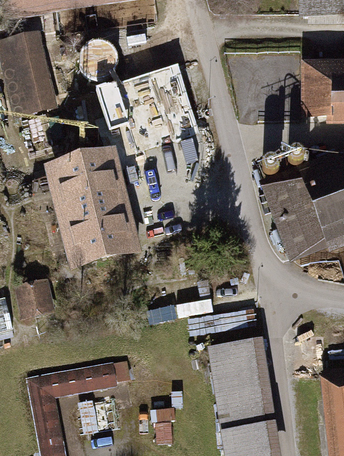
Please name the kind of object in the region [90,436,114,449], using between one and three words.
vehicle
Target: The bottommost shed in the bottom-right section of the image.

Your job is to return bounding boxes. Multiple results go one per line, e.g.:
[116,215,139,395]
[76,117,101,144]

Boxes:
[220,416,285,456]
